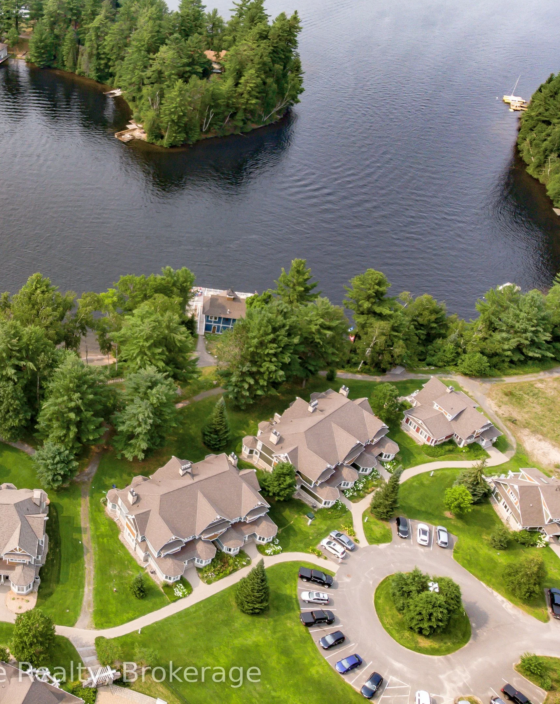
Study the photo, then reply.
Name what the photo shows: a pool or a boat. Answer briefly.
boat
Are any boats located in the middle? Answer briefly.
No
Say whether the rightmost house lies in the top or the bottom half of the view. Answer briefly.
bottom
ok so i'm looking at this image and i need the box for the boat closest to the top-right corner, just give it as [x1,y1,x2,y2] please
[502,77,528,104]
